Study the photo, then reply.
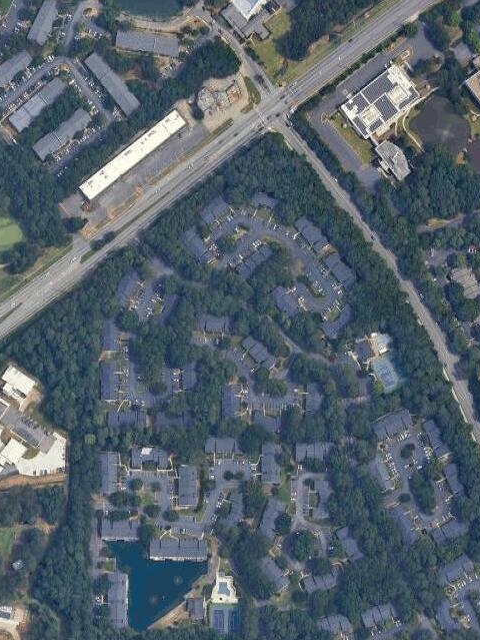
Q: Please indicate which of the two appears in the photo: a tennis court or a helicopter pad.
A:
tennis court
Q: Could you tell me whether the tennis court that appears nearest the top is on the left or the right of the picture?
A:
right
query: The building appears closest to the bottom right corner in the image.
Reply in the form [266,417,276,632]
[436,598,460,633]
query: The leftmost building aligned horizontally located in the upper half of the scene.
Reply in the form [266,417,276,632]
[114,28,181,58]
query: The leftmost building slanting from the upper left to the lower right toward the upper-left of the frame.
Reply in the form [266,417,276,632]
[85,50,140,116]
